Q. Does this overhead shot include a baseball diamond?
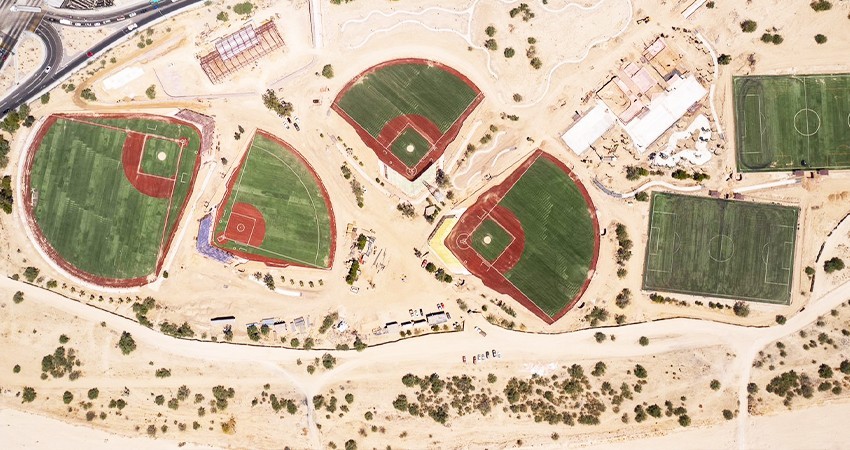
Yes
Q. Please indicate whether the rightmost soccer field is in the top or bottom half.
top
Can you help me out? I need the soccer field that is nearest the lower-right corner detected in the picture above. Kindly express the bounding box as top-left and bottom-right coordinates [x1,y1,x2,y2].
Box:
[642,192,799,305]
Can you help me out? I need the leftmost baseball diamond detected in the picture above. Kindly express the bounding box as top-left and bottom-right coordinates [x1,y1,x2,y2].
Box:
[25,113,202,288]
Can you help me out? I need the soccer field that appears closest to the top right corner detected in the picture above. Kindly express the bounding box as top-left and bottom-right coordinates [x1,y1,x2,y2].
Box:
[732,72,850,173]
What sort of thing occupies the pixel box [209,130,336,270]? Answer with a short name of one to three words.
baseball field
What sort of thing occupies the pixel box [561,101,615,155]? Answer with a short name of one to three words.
building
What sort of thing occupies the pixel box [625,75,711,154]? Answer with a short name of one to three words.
building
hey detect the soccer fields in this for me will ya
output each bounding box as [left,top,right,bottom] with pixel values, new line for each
[642,192,799,305]
[732,72,850,173]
